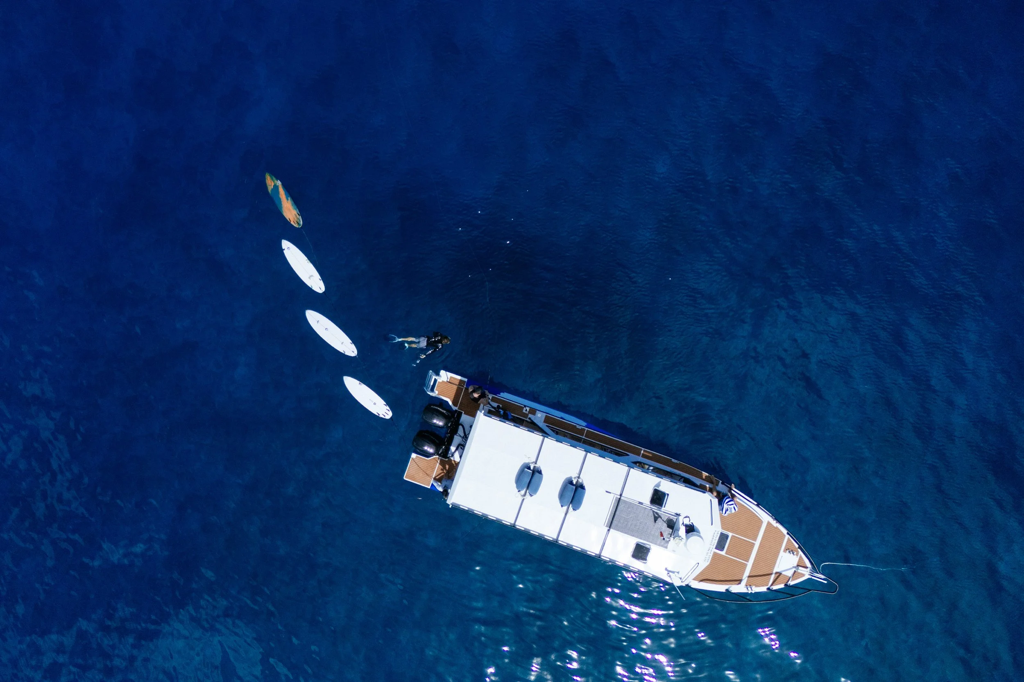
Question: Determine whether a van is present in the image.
No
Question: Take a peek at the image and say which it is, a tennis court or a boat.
boat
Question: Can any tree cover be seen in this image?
No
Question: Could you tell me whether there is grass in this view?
No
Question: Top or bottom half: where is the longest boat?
bottom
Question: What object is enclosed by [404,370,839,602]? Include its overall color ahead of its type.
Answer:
white boat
